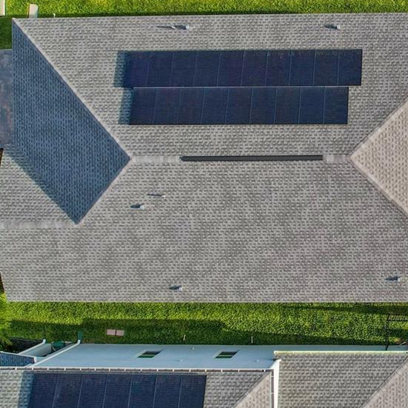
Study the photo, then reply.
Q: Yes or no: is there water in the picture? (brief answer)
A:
No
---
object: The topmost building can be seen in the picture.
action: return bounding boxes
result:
[0,14,408,301]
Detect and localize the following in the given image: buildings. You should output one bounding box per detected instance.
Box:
[0,14,408,301]
[0,336,408,408]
